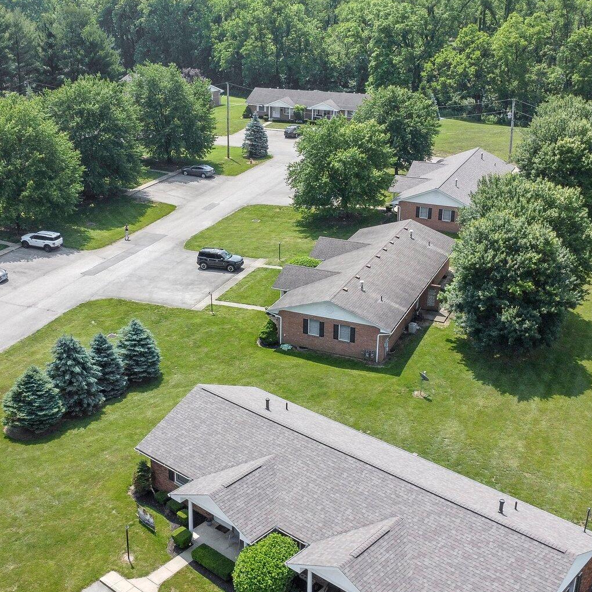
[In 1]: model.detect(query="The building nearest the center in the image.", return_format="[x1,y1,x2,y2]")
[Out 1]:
[265,217,460,364]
